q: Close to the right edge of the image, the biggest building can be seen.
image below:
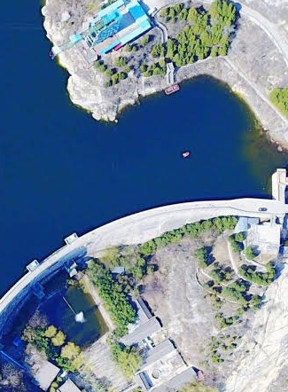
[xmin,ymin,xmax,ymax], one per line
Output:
[244,214,281,254]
